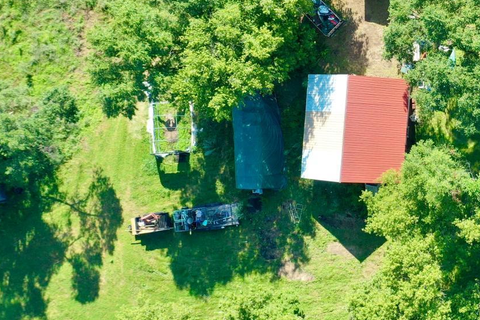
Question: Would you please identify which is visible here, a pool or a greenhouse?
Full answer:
Of the two, only a greenhouse appears.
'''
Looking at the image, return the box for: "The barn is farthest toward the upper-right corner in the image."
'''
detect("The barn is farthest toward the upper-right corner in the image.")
[302,73,414,185]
